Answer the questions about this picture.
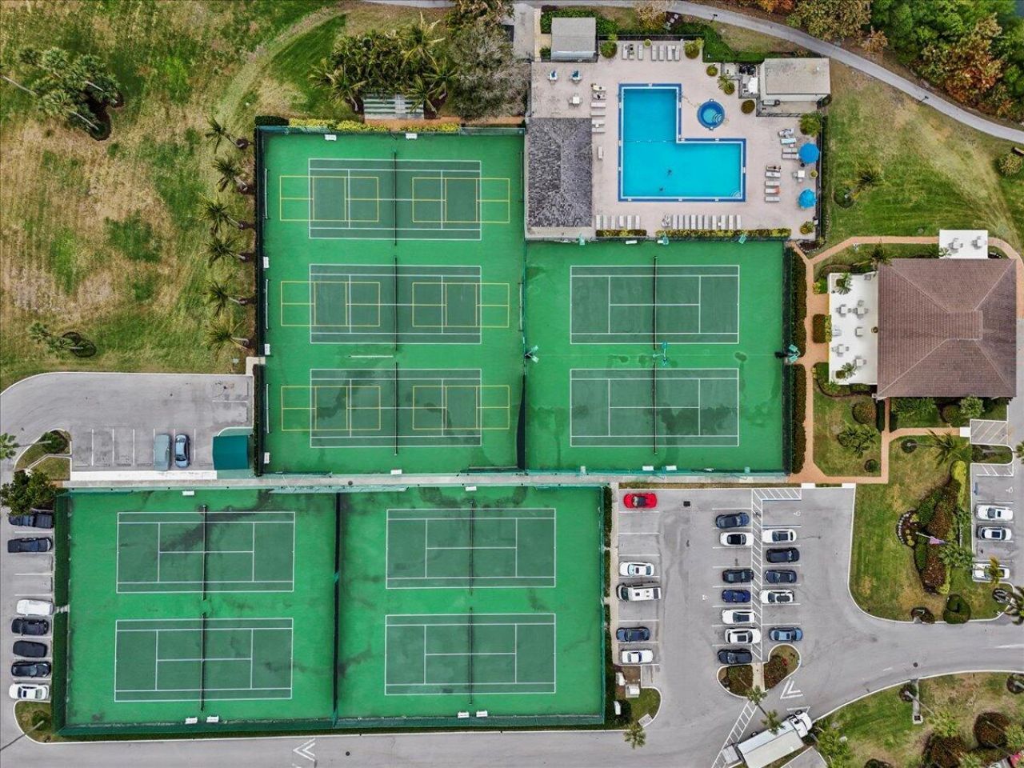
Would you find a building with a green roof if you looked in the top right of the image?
No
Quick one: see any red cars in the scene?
Yes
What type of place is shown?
sports ground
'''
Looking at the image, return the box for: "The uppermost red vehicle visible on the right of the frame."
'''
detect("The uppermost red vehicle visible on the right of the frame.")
[623,493,657,509]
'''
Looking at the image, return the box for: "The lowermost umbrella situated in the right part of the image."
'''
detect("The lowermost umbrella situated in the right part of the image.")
[797,190,816,209]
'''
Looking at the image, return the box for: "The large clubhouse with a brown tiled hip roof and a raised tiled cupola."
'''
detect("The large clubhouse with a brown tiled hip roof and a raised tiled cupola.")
[877,258,1017,398]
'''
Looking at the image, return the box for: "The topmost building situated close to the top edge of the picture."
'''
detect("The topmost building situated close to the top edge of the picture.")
[552,18,596,61]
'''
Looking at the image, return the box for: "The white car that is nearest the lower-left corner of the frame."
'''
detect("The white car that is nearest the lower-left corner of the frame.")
[12,682,48,700]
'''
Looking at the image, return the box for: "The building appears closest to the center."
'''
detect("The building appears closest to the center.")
[527,117,592,236]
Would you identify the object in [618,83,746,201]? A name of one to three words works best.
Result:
swimming pool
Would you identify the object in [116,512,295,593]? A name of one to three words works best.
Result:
tennis court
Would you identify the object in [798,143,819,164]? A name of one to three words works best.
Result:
umbrella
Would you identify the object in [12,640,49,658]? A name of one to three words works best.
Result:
car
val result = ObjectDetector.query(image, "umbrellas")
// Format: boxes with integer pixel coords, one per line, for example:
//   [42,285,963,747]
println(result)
[798,143,819,164]
[797,190,816,209]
